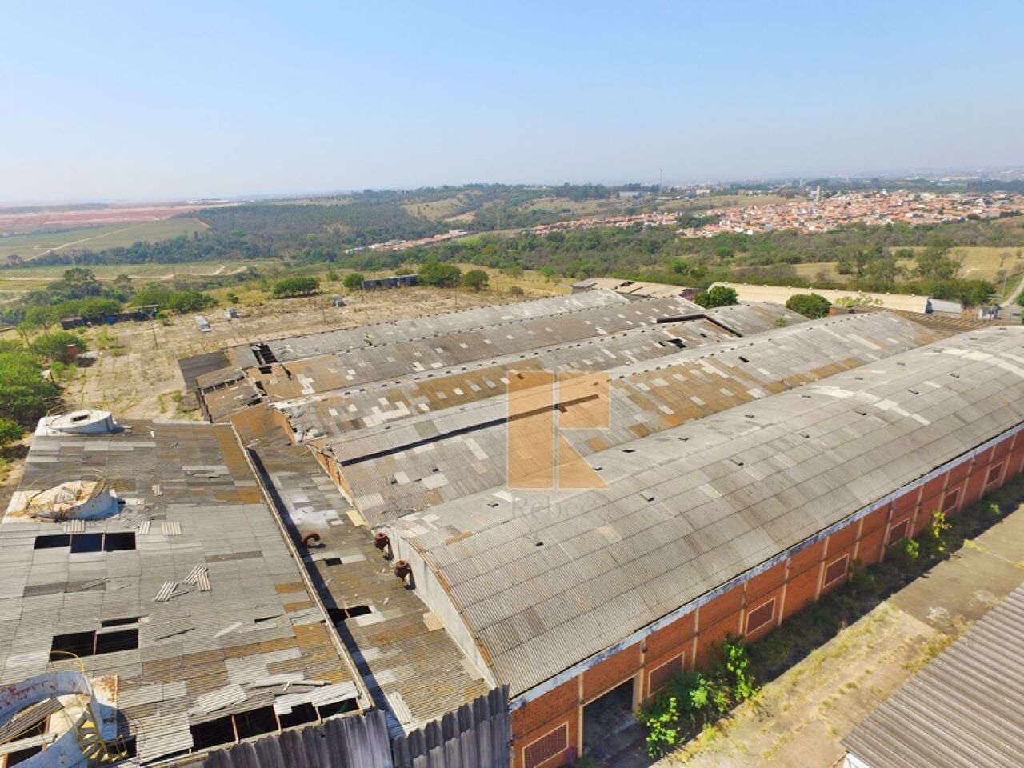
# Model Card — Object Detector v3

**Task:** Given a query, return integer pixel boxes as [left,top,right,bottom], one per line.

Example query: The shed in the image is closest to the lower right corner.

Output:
[842,588,1024,768]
